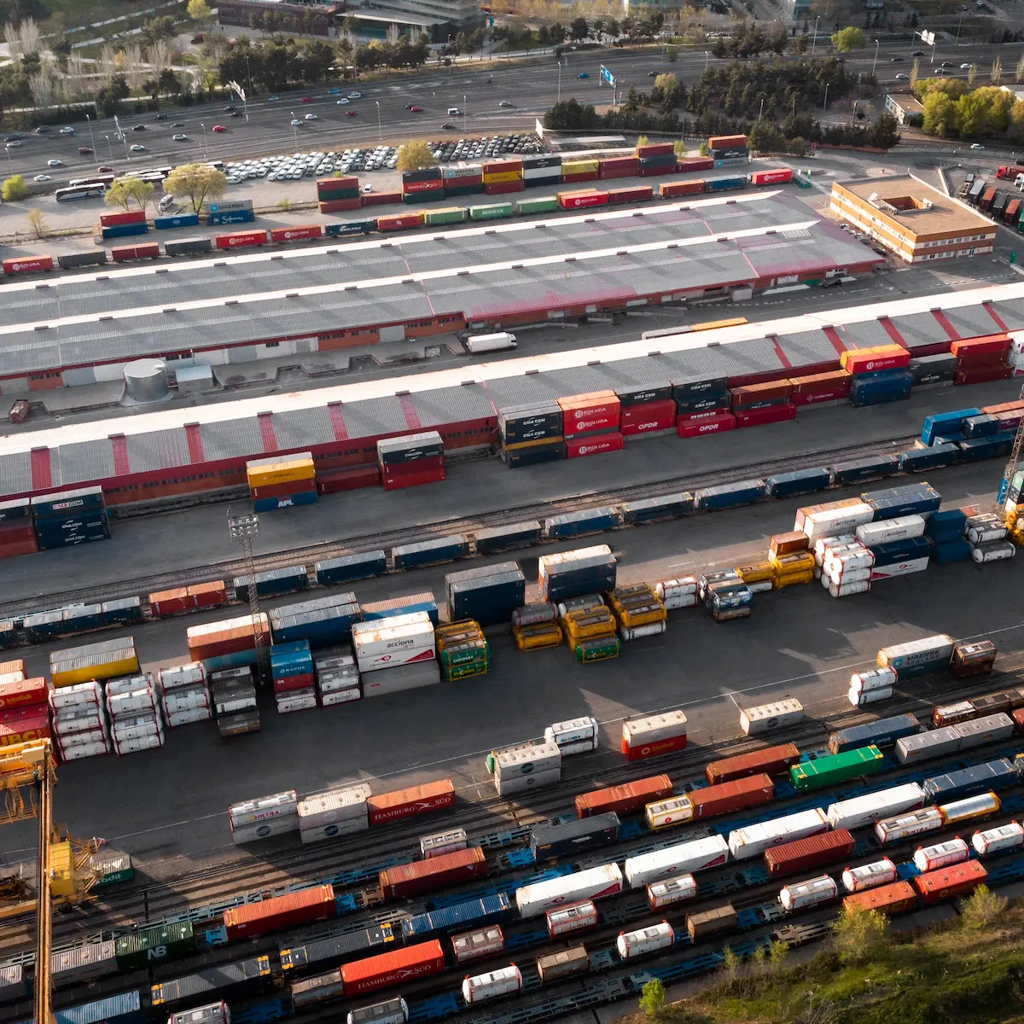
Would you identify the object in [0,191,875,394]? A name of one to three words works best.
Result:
warehouse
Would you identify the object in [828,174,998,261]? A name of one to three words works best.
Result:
building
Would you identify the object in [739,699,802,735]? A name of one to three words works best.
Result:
shipping container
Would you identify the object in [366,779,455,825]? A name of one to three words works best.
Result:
shipping container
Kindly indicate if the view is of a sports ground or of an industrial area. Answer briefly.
industrial area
